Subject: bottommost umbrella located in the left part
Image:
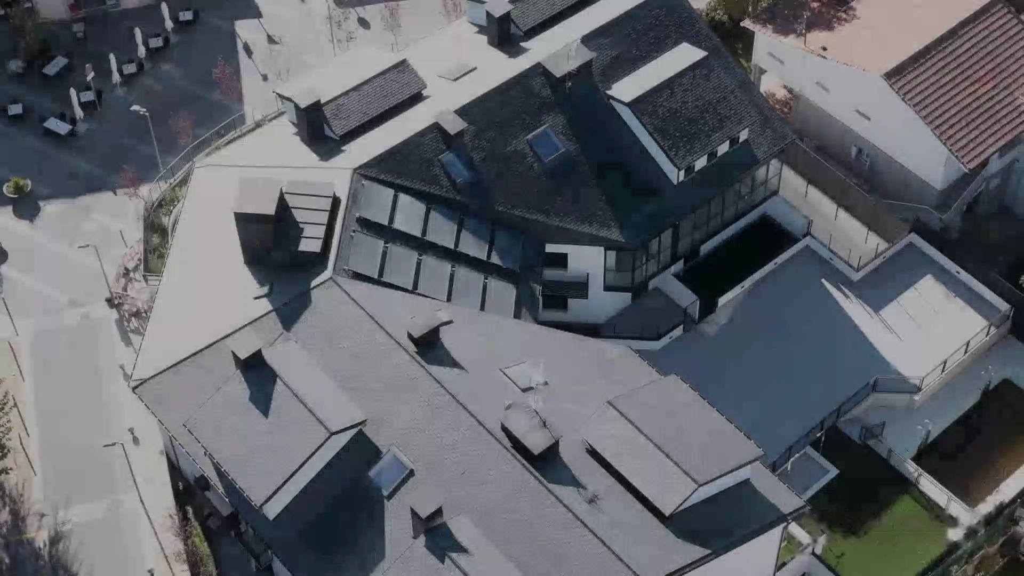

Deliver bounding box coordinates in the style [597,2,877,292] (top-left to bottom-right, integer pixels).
[69,81,88,124]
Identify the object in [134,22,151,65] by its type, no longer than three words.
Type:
umbrella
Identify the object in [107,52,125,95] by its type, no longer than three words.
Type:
umbrella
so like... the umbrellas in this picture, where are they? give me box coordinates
[134,22,151,65]
[69,81,88,124]
[161,0,178,37]
[107,52,125,95]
